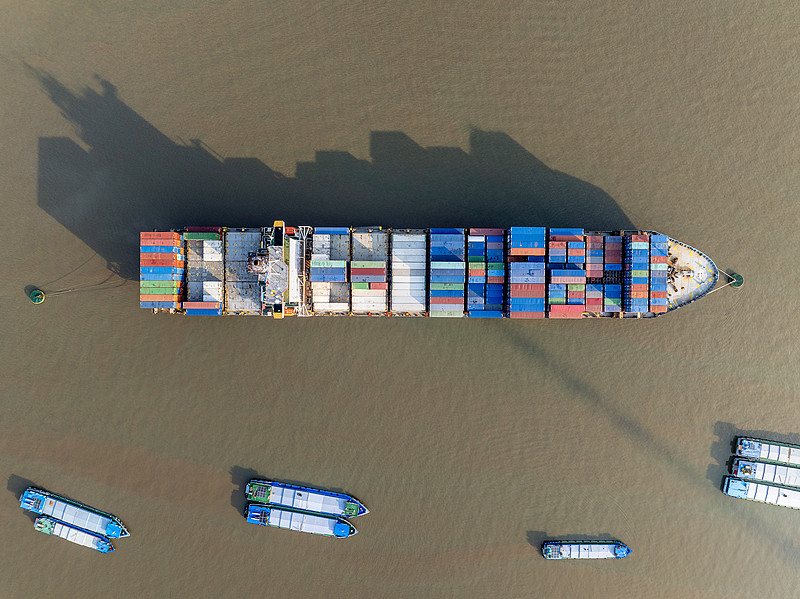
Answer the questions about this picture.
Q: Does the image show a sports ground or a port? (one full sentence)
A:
What you see here is a port.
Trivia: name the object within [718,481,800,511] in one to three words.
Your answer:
ship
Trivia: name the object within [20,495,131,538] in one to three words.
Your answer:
ship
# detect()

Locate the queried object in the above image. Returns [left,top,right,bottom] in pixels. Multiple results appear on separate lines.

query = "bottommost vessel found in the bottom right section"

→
[540,538,631,559]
